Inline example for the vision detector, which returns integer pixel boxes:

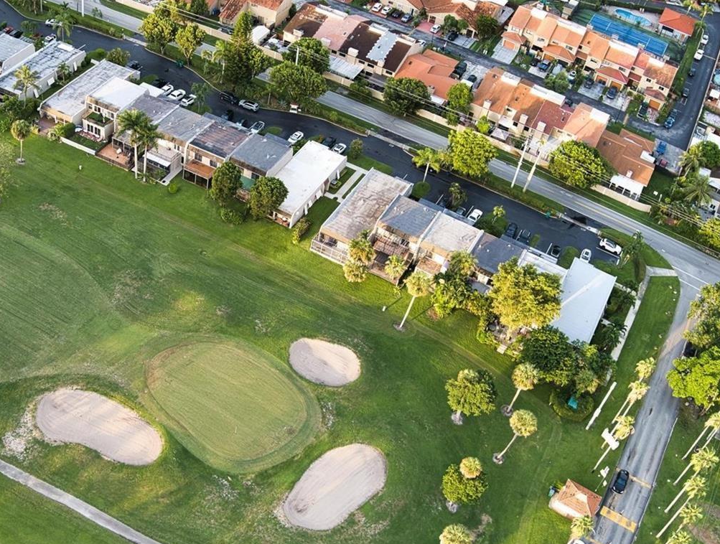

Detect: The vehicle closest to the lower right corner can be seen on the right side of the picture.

[610,468,629,496]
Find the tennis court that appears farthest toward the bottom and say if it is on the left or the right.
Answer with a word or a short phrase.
right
